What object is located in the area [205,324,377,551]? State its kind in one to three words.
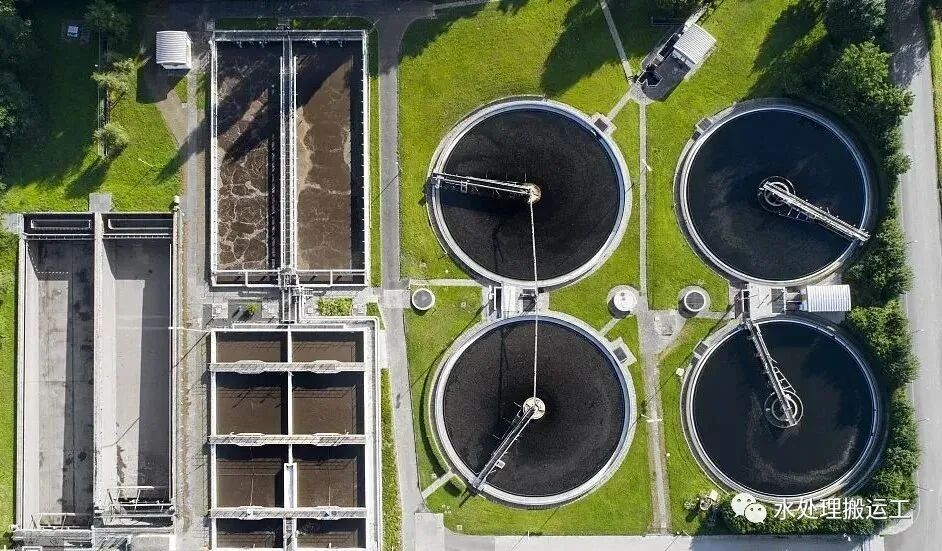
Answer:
storage tank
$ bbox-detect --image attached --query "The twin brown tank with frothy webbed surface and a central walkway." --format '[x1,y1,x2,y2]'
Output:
[208,29,369,286]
